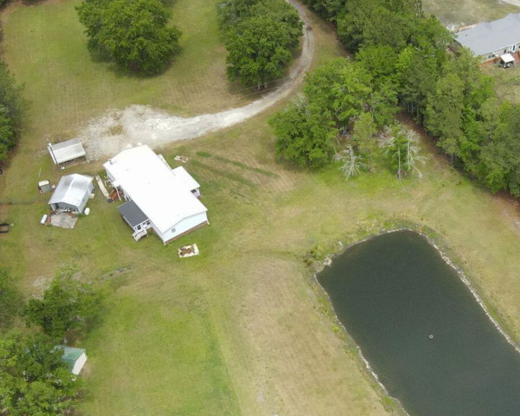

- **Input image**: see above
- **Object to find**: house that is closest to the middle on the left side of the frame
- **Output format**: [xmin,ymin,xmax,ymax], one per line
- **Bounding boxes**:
[103,148,214,250]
